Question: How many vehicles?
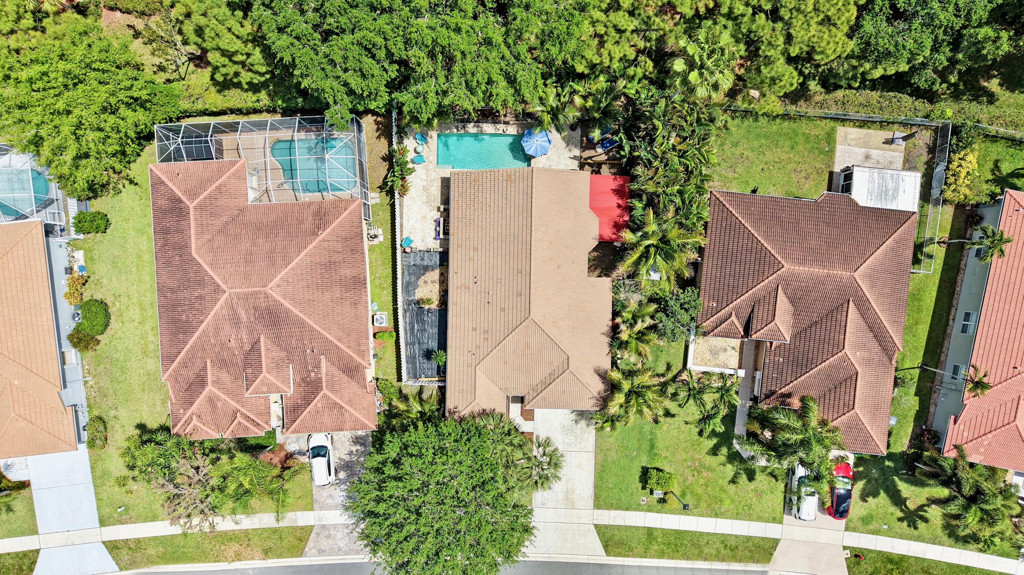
3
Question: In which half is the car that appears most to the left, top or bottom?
bottom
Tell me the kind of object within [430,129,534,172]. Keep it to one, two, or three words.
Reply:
swimming pool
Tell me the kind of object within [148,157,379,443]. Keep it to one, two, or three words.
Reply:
house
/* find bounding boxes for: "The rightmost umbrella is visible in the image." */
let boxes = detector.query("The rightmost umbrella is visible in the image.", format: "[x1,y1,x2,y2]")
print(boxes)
[893,131,919,146]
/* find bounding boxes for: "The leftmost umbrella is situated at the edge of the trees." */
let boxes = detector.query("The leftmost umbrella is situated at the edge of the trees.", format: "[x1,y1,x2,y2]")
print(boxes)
[521,127,551,157]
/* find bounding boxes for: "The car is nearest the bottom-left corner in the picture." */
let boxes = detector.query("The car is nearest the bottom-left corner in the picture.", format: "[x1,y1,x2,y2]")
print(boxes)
[307,434,338,487]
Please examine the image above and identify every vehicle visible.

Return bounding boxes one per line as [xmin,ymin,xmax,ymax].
[307,434,338,487]
[823,459,856,517]
[791,461,824,521]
